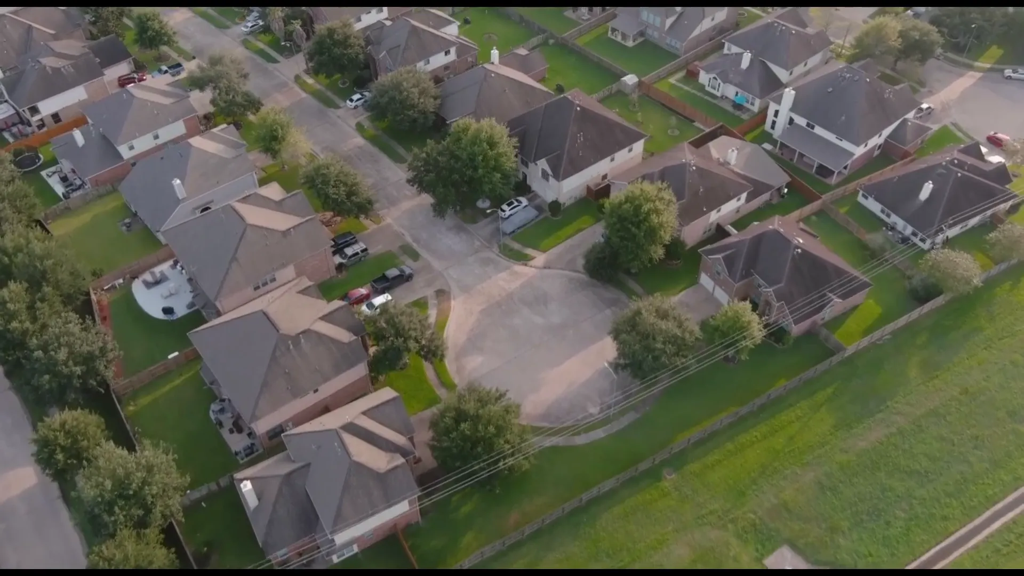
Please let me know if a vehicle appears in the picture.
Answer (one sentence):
Yes, the frame does contain a vehicle.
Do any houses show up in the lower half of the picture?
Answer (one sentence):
Yes, a house is visible in the lower half of the picture.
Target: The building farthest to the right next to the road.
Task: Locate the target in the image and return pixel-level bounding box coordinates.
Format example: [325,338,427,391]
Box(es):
[856,137,1020,254]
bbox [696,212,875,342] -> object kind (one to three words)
house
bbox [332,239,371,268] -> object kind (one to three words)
car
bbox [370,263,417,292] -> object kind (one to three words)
truck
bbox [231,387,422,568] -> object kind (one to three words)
house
